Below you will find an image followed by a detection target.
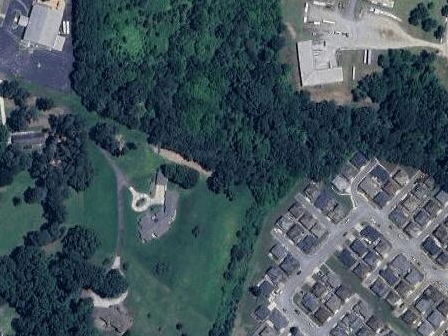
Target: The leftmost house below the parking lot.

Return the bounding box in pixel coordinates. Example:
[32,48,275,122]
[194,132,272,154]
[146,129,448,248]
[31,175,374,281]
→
[4,133,48,149]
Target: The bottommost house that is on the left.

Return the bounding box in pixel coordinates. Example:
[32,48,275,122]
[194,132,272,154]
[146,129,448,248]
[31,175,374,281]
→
[92,301,135,335]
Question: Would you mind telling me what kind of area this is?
residential area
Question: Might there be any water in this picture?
No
